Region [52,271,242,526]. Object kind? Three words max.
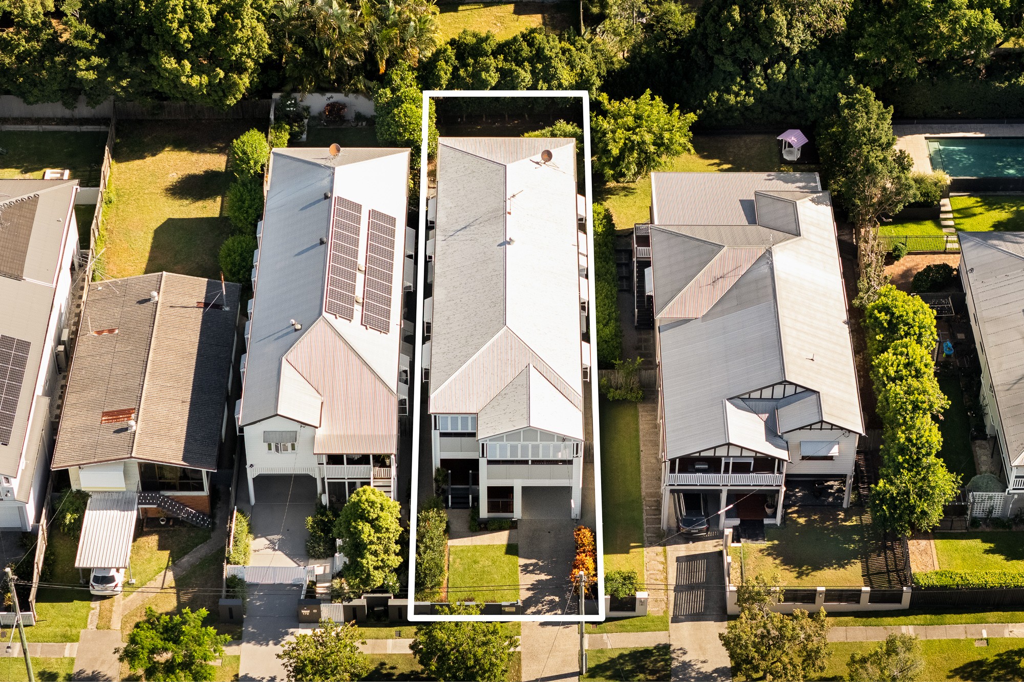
house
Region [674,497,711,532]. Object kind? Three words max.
car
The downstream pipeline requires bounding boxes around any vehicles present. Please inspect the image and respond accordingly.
[674,497,711,532]
[87,570,125,599]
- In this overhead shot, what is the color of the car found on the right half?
black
